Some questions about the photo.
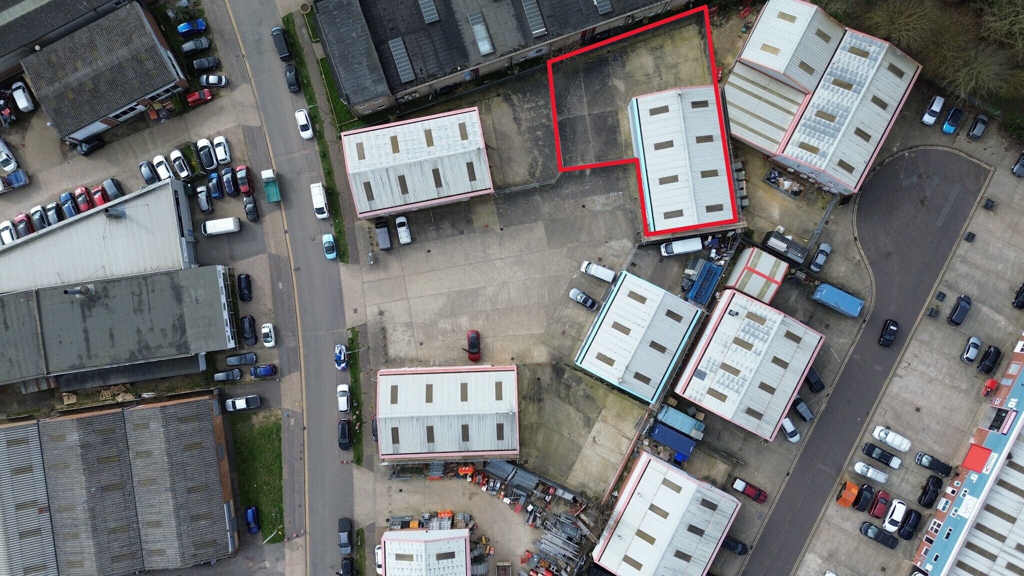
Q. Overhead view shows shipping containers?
Yes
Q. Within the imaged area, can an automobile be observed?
Yes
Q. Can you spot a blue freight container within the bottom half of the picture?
Yes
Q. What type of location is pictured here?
industrial area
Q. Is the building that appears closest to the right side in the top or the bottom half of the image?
bottom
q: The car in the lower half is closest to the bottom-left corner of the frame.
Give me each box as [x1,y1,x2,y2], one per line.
[244,505,261,533]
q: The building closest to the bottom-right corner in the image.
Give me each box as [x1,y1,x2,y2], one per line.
[903,342,1024,576]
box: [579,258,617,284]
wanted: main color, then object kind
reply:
white vehicle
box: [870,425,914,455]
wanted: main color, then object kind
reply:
white truck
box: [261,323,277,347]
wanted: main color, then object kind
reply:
white car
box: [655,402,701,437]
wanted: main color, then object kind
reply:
blue shipping container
